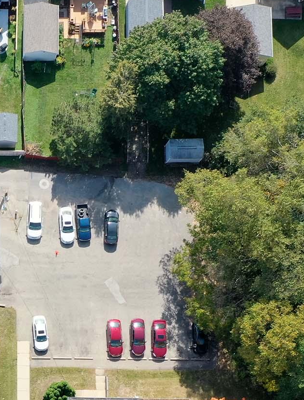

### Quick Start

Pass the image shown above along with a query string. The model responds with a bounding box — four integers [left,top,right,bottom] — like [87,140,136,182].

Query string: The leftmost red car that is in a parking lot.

[105,318,125,358]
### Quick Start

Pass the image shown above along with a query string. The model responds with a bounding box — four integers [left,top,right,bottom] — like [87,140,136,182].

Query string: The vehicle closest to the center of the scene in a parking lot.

[102,208,120,246]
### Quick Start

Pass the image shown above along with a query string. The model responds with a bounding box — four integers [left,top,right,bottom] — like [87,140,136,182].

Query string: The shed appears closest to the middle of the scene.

[161,139,205,168]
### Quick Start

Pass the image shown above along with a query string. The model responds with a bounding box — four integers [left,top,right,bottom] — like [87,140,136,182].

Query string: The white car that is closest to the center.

[58,207,76,245]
